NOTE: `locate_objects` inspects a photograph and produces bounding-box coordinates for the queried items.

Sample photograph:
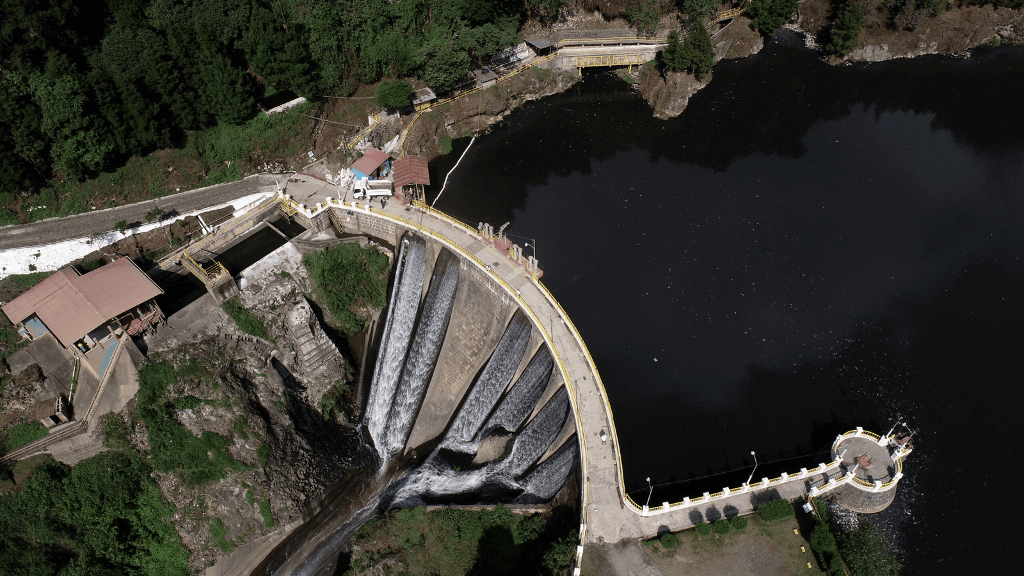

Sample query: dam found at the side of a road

[329,205,641,576]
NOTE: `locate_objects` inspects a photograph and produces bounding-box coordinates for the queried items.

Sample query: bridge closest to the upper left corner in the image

[181,252,242,319]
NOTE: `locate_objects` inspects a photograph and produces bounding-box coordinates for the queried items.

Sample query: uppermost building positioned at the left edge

[2,255,165,359]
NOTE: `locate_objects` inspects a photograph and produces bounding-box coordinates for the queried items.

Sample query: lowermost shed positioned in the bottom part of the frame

[32,402,70,428]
